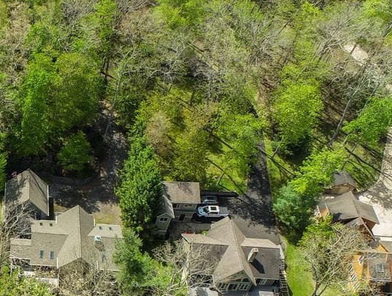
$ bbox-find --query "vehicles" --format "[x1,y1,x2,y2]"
[200,194,224,206]
[198,205,232,218]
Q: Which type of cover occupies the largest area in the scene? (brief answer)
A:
trees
